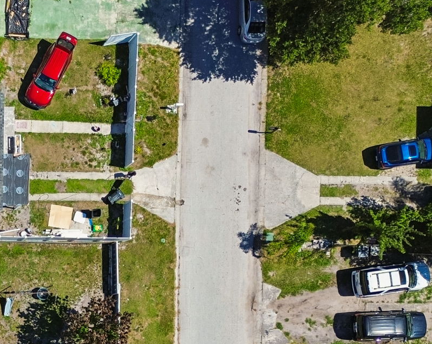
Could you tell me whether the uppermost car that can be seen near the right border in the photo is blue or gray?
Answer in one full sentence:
In this view, the uppermost car that can be seen near the right border is blue.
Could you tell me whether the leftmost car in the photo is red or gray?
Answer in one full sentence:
The color of the leftmost car is red.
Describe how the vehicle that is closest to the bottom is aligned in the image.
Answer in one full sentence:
The vehicle that is closest to the bottom is laid out from left to right.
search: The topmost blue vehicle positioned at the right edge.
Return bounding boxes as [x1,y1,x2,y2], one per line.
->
[371,133,432,170]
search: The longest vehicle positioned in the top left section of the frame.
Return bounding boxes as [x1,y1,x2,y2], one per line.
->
[26,29,78,114]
